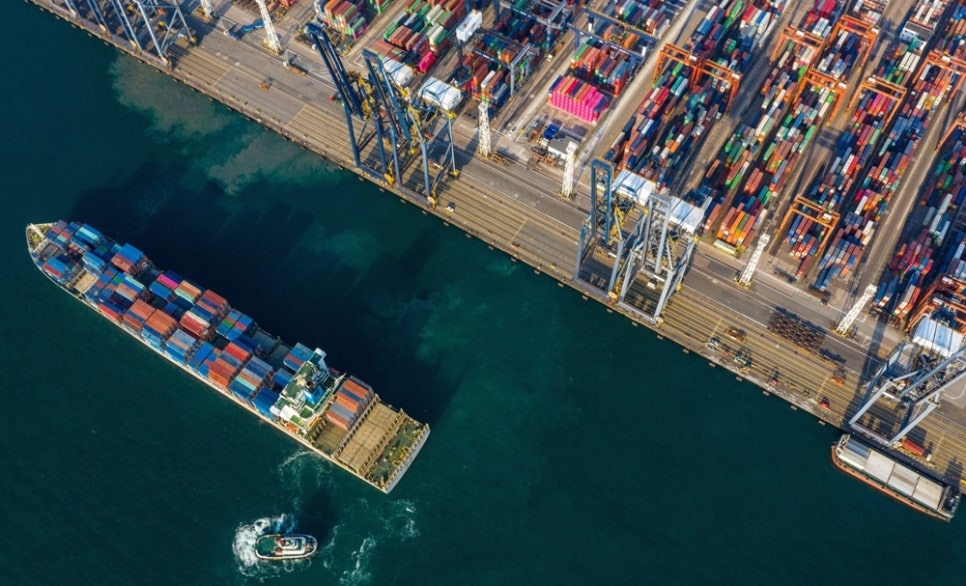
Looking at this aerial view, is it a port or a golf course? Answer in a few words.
port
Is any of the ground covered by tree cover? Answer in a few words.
No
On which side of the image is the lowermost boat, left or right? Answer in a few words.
left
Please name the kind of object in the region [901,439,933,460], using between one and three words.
truck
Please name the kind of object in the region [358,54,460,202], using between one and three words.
container crane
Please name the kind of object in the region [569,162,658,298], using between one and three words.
container crane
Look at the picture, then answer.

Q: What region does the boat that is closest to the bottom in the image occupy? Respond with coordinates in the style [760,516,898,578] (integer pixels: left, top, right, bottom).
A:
[257,534,319,559]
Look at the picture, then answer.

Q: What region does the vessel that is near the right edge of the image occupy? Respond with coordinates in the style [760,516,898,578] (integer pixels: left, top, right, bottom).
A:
[828,433,961,525]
